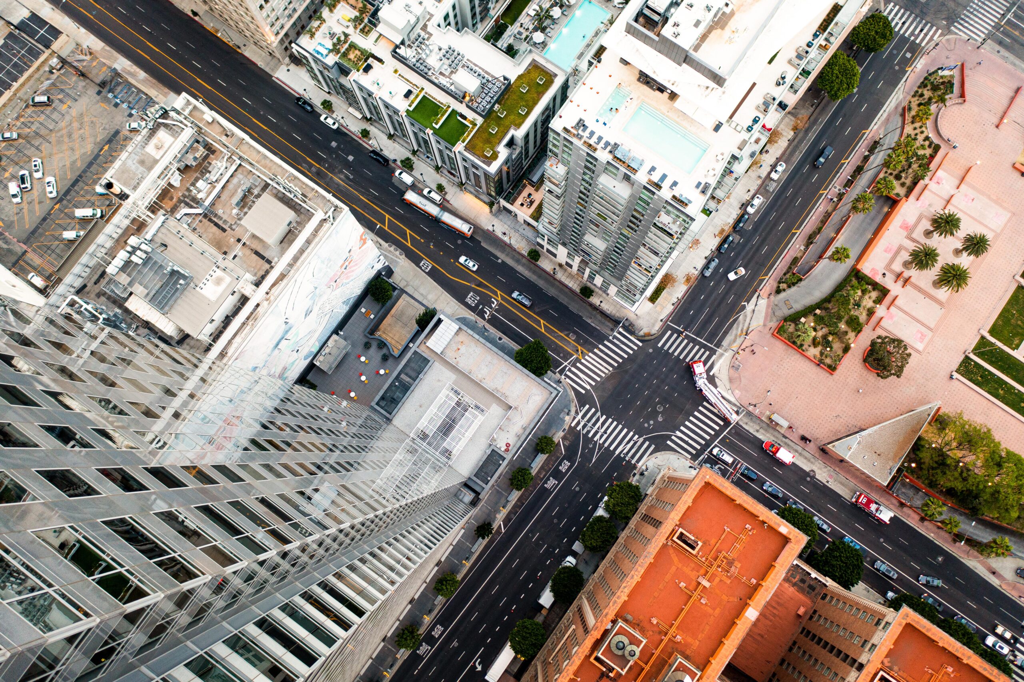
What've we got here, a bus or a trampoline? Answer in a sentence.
There is a bus in the scene.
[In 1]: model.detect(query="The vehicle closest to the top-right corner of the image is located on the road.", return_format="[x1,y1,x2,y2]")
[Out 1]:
[814,145,834,168]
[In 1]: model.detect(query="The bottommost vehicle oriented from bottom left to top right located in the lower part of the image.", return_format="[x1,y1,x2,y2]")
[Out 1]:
[487,641,516,682]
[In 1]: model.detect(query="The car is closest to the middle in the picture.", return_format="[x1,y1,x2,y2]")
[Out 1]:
[511,290,533,309]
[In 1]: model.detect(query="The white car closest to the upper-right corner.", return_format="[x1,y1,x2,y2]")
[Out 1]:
[768,162,787,182]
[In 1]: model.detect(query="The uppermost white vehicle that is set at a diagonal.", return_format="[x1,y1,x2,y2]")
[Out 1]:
[319,114,340,131]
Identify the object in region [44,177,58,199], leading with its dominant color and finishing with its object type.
white car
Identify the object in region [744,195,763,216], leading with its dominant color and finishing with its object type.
white car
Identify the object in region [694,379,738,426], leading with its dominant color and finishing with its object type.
white trailer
